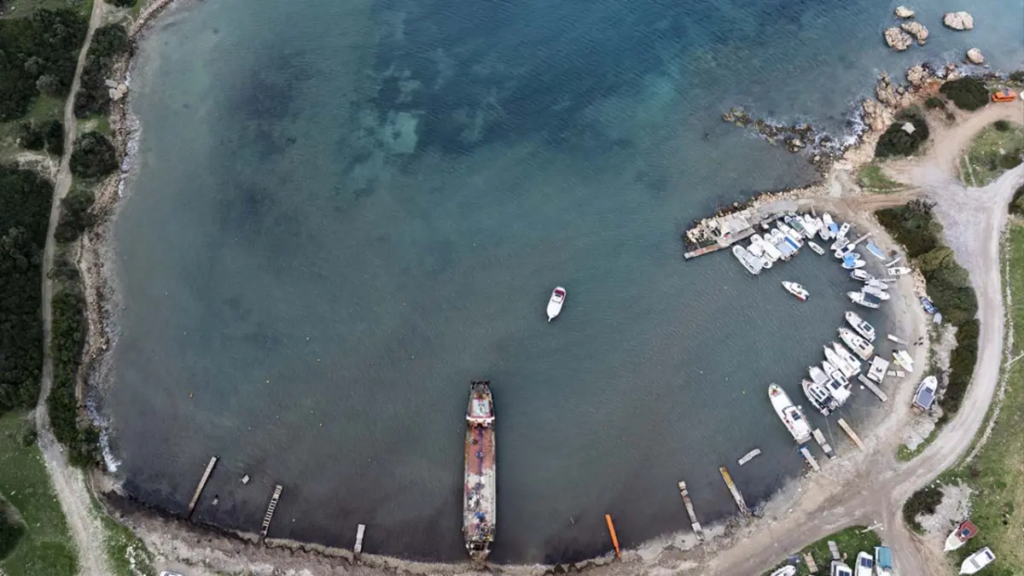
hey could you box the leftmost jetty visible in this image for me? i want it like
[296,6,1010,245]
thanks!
[187,456,219,515]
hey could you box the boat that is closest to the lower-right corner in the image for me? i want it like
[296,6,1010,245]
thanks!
[958,548,997,576]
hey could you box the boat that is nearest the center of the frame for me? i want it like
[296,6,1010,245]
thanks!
[547,285,566,321]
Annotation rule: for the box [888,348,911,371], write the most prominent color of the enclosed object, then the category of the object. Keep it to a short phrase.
white boat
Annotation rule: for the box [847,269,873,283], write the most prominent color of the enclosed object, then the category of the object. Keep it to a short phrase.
white boat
